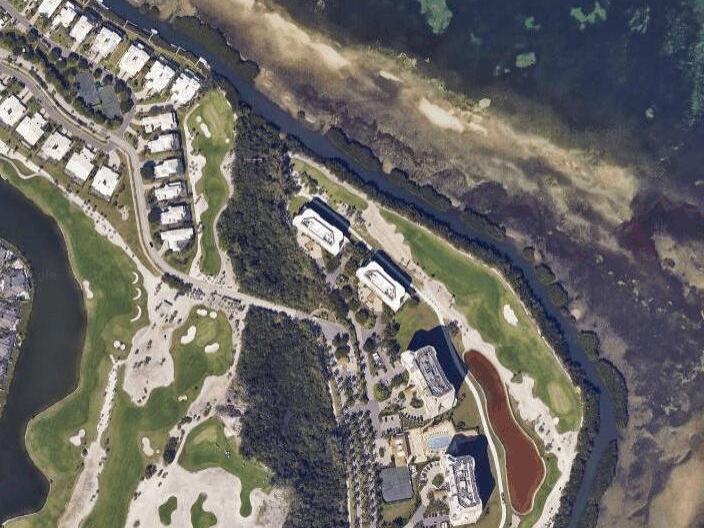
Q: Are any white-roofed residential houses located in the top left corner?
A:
Yes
